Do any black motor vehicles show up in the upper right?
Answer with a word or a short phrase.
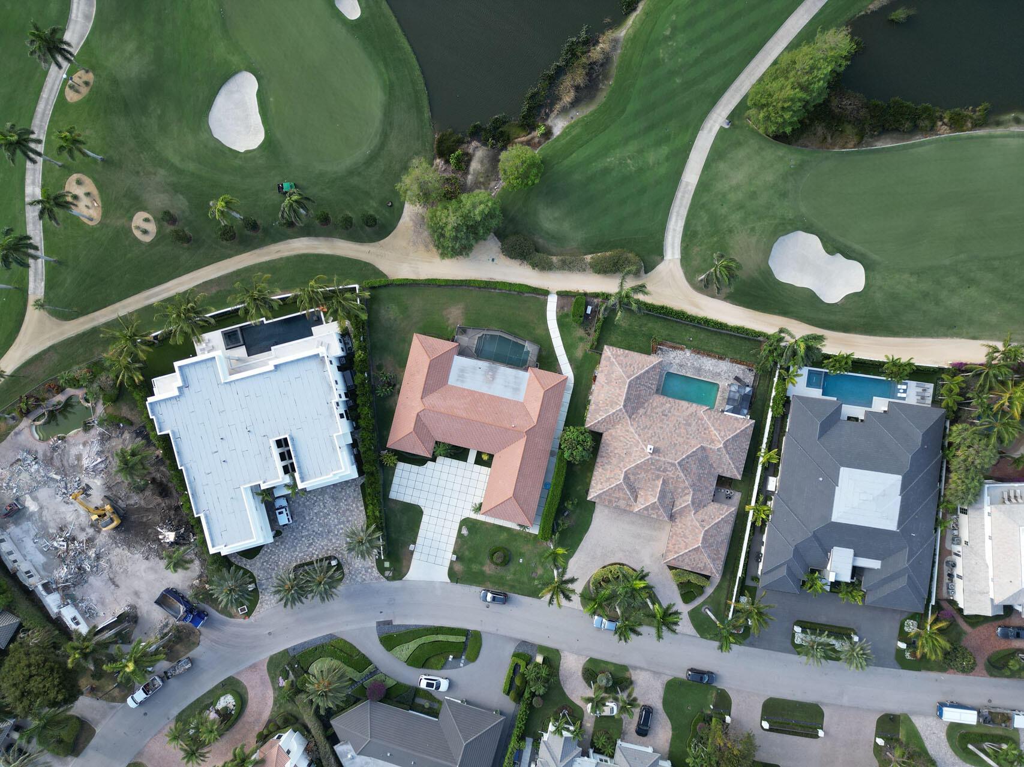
No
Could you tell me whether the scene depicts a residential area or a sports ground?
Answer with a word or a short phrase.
residential area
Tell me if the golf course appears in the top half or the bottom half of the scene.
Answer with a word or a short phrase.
top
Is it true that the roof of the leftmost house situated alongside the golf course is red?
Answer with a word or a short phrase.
No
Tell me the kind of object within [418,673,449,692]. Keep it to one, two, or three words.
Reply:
car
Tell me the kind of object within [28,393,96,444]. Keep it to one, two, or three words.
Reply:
swimming pool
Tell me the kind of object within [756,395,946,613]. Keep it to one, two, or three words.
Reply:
house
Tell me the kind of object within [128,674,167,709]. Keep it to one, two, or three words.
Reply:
vehicle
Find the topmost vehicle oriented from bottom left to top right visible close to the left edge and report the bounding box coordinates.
[0,495,25,518]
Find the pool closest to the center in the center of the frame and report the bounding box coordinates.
[473,332,532,369]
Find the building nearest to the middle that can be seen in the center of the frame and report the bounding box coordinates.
[386,333,568,527]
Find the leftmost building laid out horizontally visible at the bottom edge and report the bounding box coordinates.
[330,694,505,767]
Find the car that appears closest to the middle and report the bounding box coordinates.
[479,588,508,605]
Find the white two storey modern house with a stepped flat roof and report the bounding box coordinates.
[147,332,364,555]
